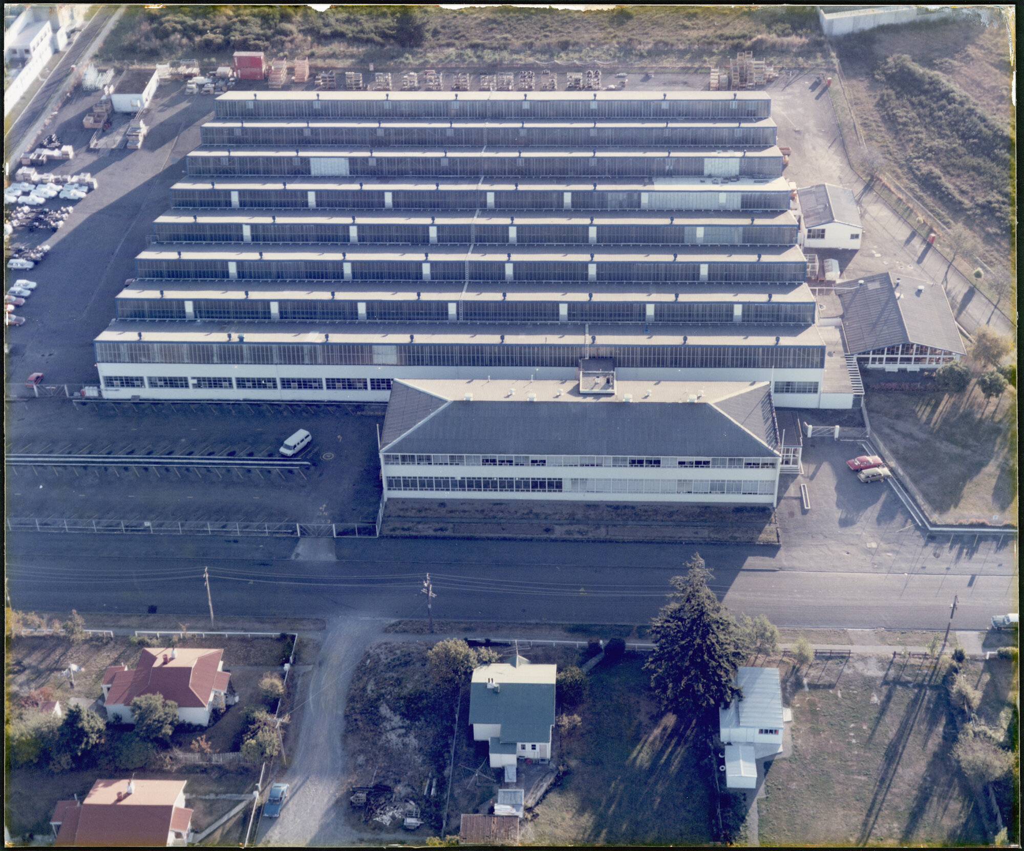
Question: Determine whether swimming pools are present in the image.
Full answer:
No, the scene contains no swimming pool.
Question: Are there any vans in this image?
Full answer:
Yes, a van is visible in the scene.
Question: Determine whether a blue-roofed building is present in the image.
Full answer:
Yes, the picture does show a blue-roofed building.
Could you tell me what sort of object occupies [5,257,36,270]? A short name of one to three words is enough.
vehicle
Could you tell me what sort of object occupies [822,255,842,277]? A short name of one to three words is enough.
shed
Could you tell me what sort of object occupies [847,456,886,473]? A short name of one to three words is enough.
car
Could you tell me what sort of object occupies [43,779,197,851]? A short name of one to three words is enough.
house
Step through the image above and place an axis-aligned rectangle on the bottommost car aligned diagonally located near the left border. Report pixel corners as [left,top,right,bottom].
[22,371,48,389]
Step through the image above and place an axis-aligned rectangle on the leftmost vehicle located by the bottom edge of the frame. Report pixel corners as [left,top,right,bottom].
[263,783,289,825]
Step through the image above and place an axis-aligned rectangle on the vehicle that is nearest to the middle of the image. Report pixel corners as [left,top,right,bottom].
[279,429,313,460]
